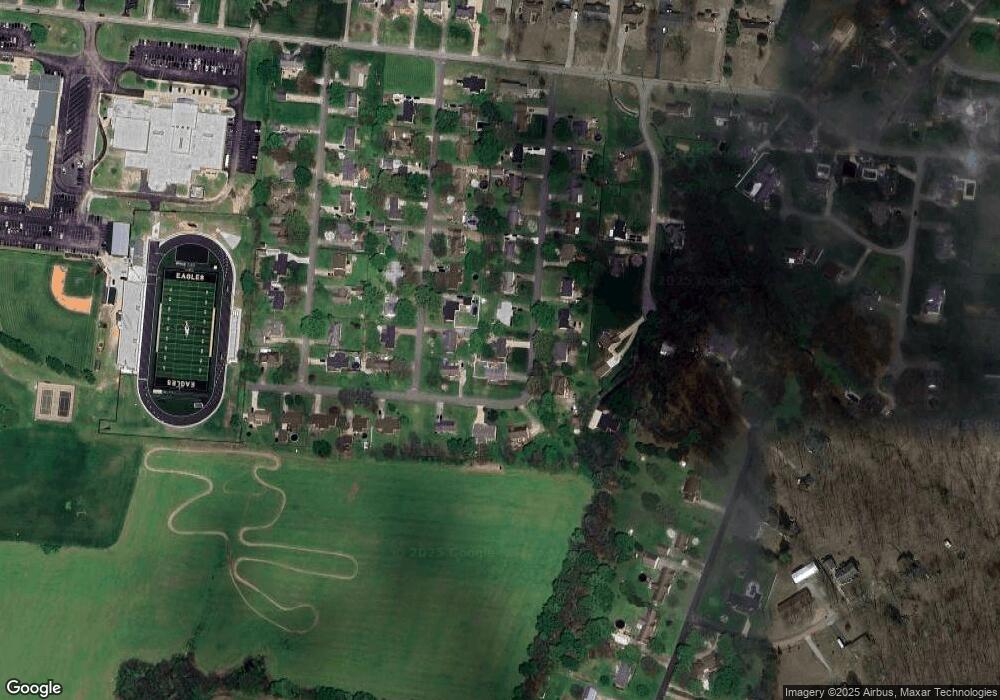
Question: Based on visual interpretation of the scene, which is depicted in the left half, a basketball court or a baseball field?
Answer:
baseball field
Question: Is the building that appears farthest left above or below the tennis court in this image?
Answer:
above it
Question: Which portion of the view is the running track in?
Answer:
left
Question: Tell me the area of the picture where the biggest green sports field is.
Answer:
left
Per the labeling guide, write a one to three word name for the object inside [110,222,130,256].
building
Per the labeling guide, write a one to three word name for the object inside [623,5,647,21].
house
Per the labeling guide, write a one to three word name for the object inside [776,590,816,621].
barn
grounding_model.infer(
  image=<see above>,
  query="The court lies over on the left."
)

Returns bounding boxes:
[34,382,75,423]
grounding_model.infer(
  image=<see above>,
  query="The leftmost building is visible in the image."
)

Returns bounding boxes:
[0,74,62,206]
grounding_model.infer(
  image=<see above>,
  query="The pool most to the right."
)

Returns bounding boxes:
[963,180,976,198]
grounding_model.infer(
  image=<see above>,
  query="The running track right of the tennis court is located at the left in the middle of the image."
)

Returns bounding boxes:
[137,232,235,429]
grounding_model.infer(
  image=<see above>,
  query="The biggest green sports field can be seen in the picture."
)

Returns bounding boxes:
[154,268,219,394]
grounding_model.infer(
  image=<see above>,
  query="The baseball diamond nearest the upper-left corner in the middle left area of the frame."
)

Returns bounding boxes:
[52,265,92,313]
